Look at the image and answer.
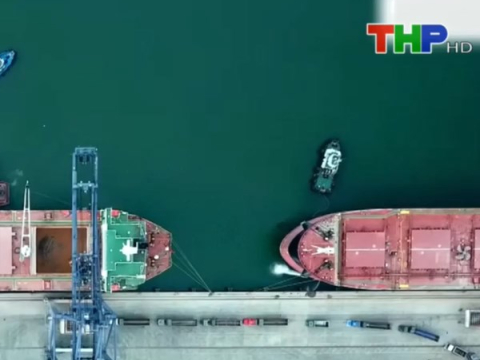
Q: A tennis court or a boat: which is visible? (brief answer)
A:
boat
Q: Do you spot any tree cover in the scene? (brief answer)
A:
No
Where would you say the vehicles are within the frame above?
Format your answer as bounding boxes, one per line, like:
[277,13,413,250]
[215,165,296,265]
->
[460,352,474,360]
[343,320,389,330]
[151,319,196,326]
[242,317,288,325]
[306,320,328,326]
[197,318,240,326]
[116,318,150,325]
[394,326,441,341]
[443,345,467,357]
